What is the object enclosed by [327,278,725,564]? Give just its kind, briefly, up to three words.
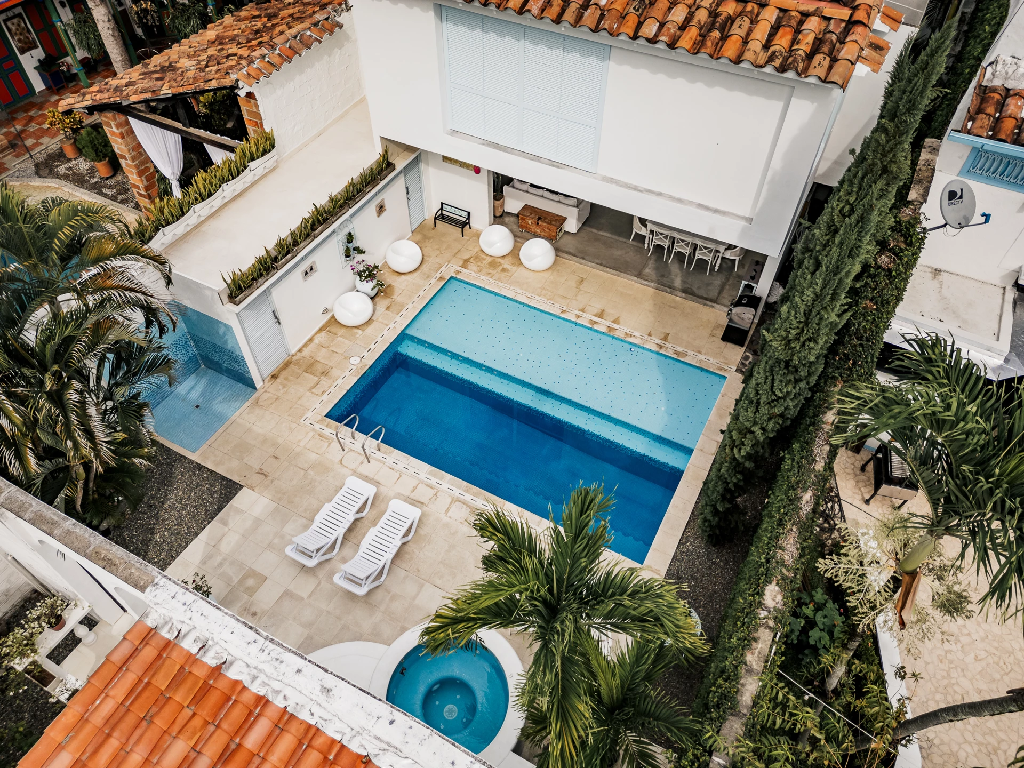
swimming pool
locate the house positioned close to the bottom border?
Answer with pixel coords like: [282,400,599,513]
[41,609,411,768]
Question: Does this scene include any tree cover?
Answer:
Yes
